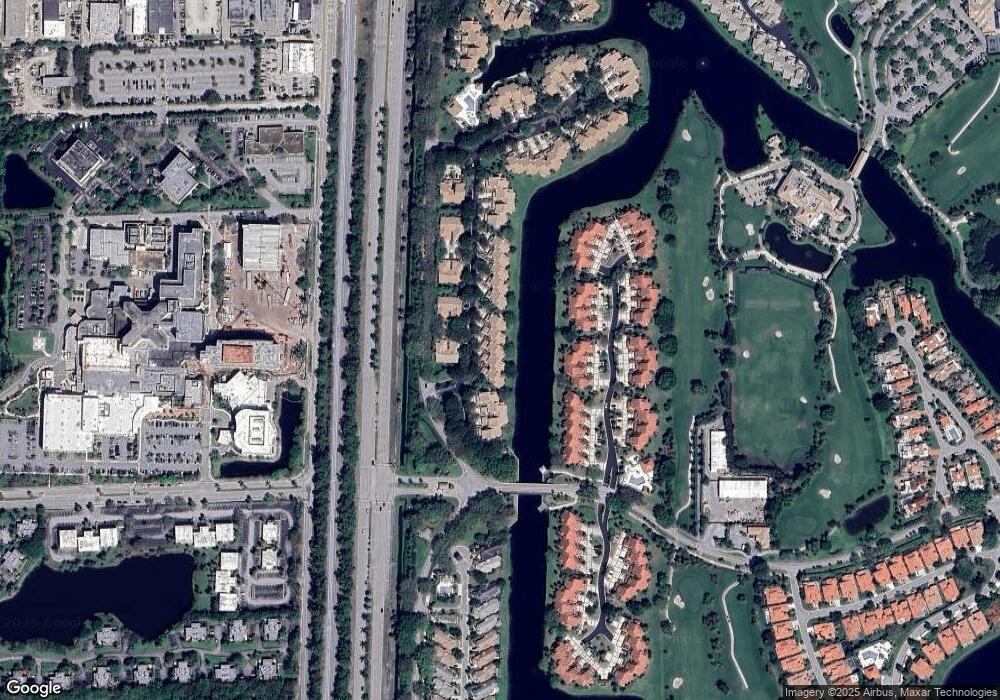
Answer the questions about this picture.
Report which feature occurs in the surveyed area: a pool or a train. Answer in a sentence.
It is a pool that can be seen here.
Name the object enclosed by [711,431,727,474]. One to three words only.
shed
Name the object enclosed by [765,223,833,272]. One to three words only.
pond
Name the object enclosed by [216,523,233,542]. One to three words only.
building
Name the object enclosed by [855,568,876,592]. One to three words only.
house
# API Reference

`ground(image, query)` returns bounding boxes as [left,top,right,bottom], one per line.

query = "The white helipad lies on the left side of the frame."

[32,337,46,350]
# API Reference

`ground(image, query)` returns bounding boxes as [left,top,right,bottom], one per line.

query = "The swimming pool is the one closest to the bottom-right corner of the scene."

[858,641,892,672]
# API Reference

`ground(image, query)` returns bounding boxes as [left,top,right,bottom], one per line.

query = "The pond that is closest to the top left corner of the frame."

[4,155,54,209]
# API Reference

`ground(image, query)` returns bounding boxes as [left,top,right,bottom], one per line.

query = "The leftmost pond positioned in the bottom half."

[221,394,302,478]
